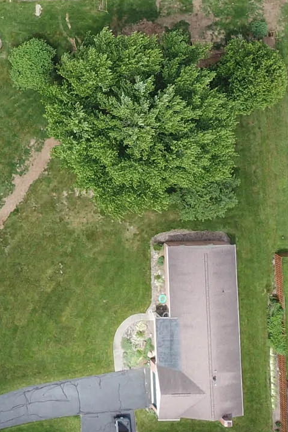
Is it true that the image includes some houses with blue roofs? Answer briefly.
No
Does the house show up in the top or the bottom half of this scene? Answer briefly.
bottom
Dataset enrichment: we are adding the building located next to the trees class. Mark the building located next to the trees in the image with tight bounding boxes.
[151,242,245,423]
